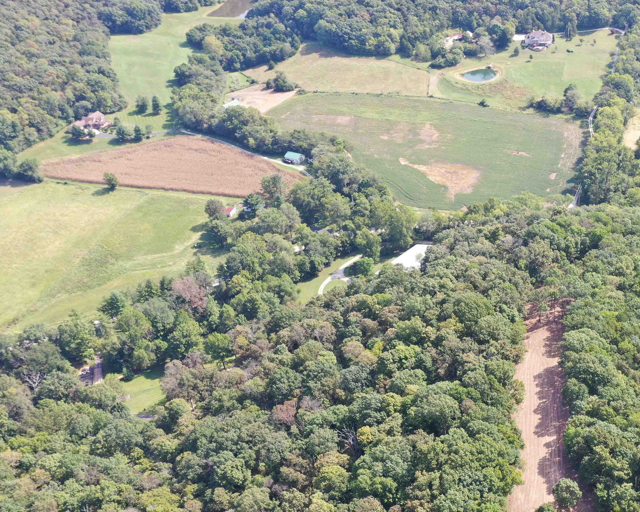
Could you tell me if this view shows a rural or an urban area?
rural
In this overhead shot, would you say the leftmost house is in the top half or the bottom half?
top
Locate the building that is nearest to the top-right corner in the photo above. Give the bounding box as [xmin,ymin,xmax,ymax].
[522,25,550,47]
